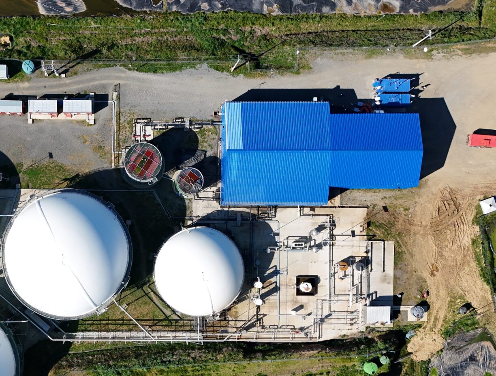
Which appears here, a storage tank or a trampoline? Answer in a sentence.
Visible in the photo is a storage tank.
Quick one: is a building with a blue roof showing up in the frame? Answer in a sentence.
Yes, there's a building with a blue roof down there.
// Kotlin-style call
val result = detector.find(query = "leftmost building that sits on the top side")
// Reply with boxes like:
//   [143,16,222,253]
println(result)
[0,99,24,118]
